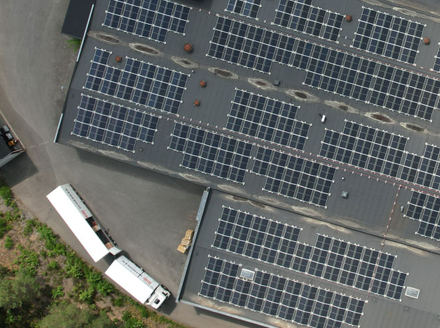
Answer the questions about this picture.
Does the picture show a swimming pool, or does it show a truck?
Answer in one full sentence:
Visible in the photo is a truck.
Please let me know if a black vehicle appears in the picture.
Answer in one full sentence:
No, there is no black vehicle in the image.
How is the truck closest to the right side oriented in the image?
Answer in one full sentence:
The truck closest to the right side is oriented at an angle.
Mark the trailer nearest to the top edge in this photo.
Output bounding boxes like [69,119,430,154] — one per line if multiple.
[47,182,116,261]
